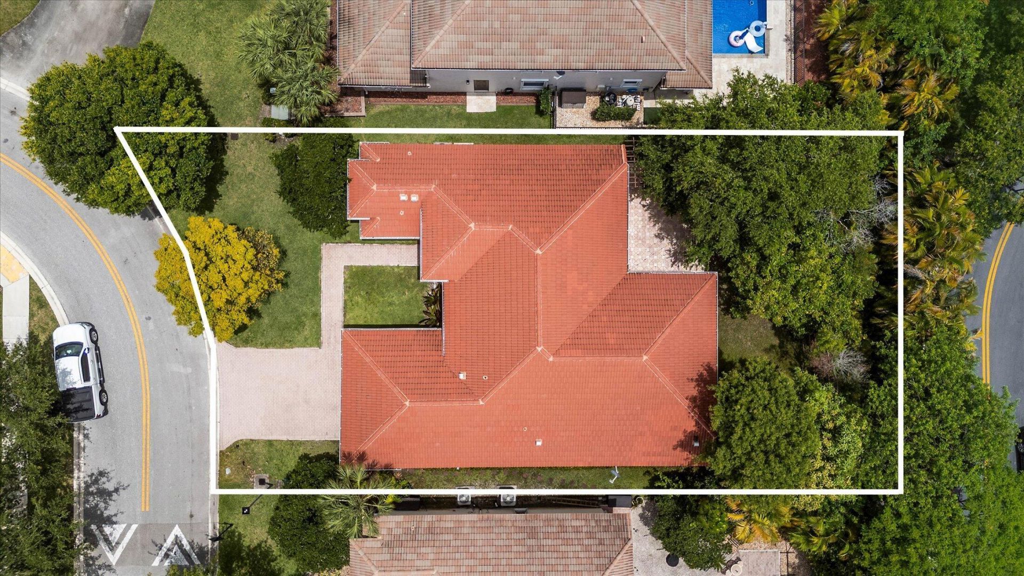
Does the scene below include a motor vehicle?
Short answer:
Yes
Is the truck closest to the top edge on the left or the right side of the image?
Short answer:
left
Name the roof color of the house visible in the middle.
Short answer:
red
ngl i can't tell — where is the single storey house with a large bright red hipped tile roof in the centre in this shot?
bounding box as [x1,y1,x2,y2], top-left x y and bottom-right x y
[339,142,719,470]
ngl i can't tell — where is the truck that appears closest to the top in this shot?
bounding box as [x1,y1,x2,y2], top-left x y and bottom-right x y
[47,317,106,424]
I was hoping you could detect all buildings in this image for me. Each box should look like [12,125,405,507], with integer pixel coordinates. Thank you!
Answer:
[335,0,714,101]
[350,506,633,576]
[339,142,719,470]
